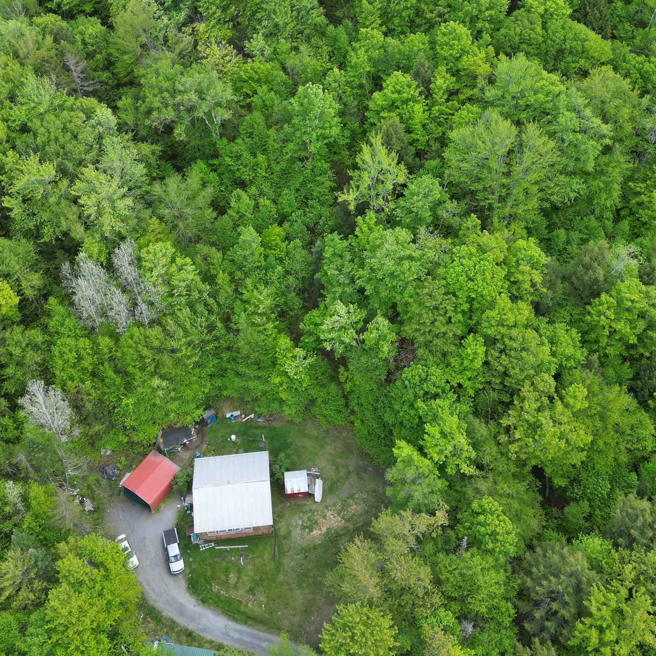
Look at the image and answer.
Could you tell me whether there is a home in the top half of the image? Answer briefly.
No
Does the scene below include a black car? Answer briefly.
No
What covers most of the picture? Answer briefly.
trees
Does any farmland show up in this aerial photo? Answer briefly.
No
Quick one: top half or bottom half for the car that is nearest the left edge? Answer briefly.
bottom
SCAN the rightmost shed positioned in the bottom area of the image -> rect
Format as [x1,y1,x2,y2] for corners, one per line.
[284,469,309,498]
